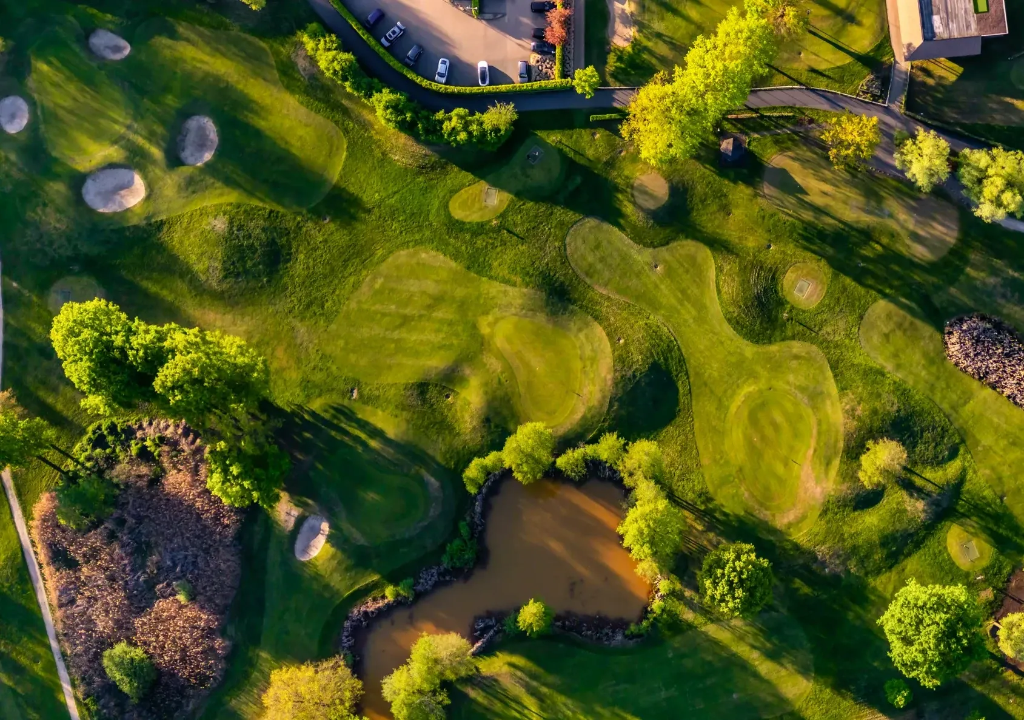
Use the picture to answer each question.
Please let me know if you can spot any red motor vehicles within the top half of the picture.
No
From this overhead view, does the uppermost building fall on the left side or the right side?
right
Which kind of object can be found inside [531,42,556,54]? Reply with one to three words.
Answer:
vehicle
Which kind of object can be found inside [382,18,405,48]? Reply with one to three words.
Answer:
car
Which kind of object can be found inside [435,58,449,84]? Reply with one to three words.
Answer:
car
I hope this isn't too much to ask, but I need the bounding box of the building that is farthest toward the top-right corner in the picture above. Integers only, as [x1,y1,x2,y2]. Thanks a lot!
[897,0,1010,60]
